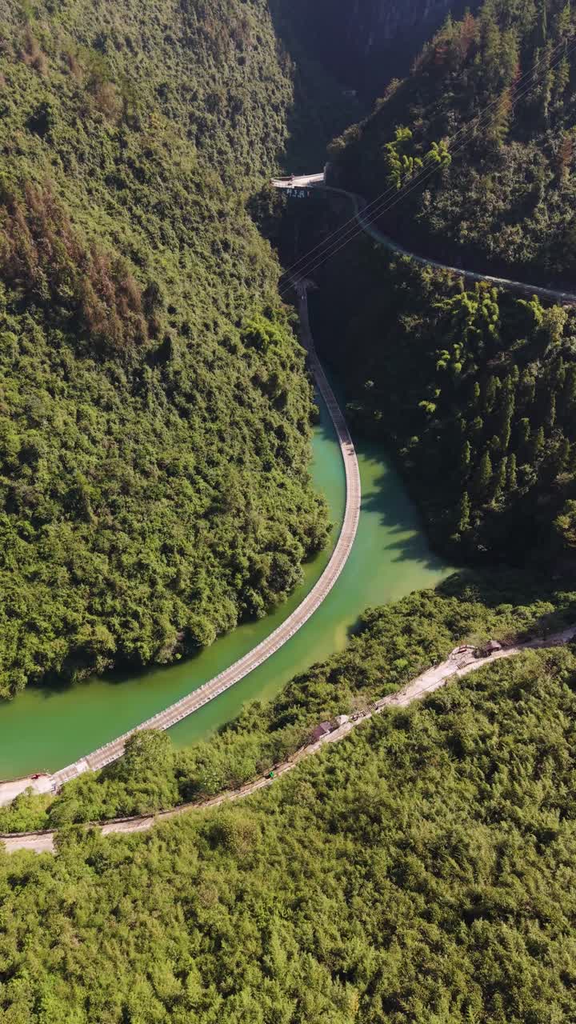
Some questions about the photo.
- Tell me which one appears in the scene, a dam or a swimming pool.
dam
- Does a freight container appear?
No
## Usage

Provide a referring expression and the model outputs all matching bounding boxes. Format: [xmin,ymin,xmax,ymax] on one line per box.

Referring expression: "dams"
[270,183,333,267]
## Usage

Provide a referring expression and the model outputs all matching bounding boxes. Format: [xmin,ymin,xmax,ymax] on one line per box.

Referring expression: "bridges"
[52,289,361,789]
